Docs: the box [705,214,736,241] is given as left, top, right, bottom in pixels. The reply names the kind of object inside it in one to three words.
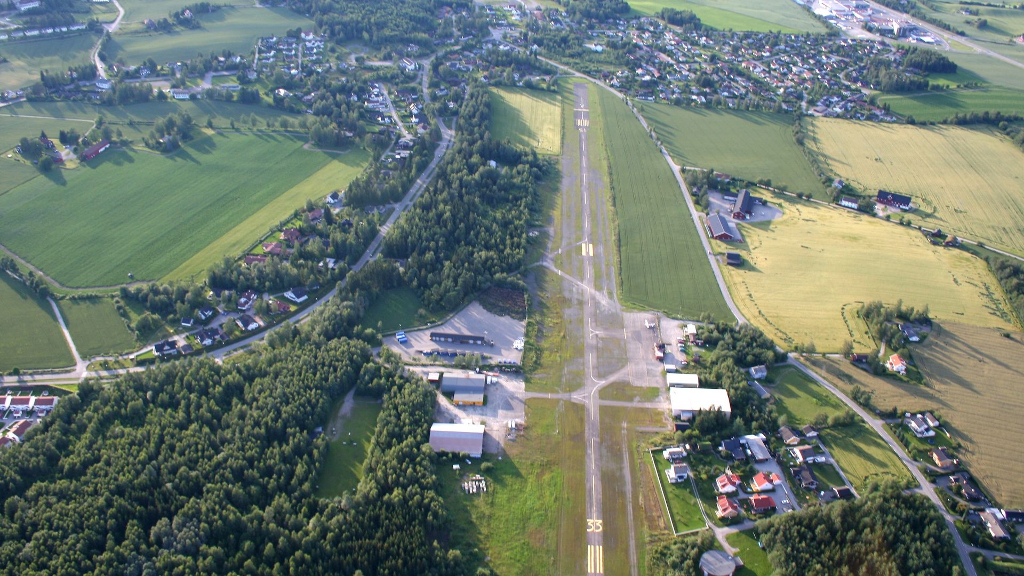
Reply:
barn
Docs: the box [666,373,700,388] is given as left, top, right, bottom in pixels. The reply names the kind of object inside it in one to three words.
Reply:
hangar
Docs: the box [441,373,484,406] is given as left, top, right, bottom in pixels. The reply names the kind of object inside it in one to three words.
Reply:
building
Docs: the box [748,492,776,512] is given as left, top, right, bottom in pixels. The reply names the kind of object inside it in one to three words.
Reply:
house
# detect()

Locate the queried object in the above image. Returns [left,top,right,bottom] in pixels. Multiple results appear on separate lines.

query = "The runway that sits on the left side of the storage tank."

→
[572,80,605,576]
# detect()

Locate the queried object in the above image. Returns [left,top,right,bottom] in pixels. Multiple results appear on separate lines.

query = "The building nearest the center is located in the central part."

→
[430,333,485,346]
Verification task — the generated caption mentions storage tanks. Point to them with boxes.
[699,548,748,576]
